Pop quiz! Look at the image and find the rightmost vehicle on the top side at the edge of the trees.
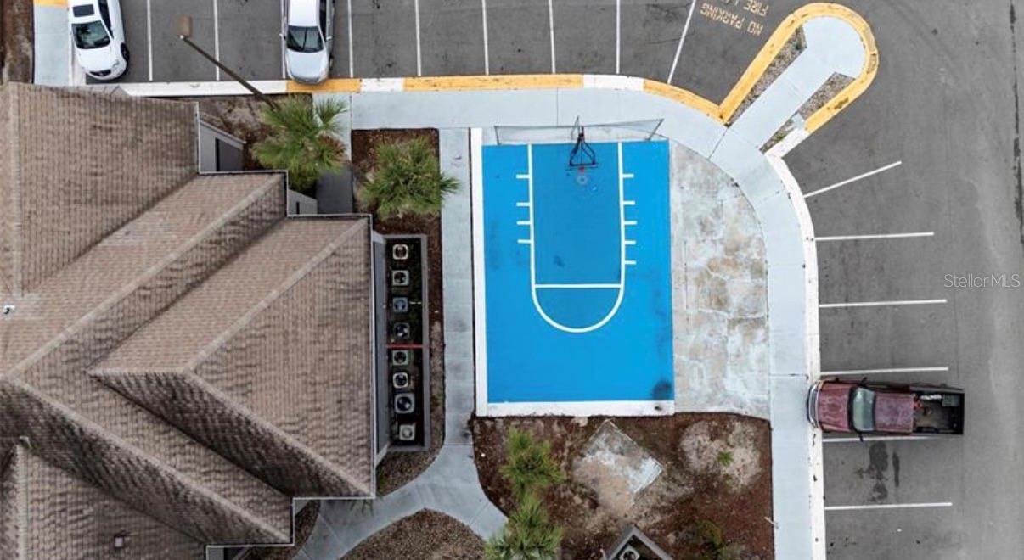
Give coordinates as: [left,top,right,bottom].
[277,0,334,84]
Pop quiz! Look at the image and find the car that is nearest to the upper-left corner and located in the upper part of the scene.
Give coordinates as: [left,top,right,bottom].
[64,0,130,81]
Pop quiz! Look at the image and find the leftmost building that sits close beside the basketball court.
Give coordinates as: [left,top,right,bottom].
[0,77,388,560]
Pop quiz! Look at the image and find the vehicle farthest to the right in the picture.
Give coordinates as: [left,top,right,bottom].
[806,379,963,442]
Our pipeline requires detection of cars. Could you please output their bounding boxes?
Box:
[64,0,130,81]
[277,0,334,84]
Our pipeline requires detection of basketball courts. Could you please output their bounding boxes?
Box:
[471,128,674,416]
